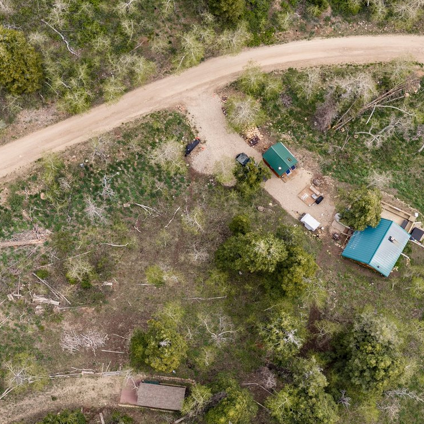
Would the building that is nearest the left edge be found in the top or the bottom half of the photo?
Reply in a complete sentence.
It is in the bottom half that the building that is nearest the left edge appears.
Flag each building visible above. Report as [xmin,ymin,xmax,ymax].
[137,382,187,411]
[339,215,411,279]
[262,140,299,179]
